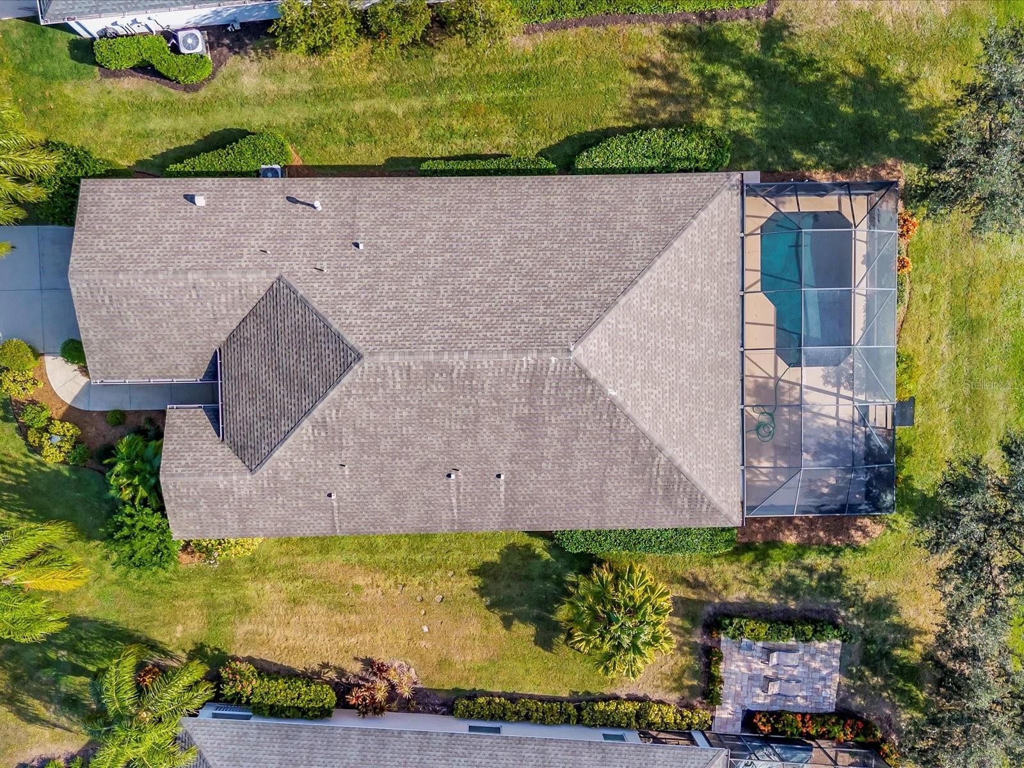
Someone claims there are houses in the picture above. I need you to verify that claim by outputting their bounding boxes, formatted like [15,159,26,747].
[68,169,749,539]
[30,0,461,38]
[176,706,733,768]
